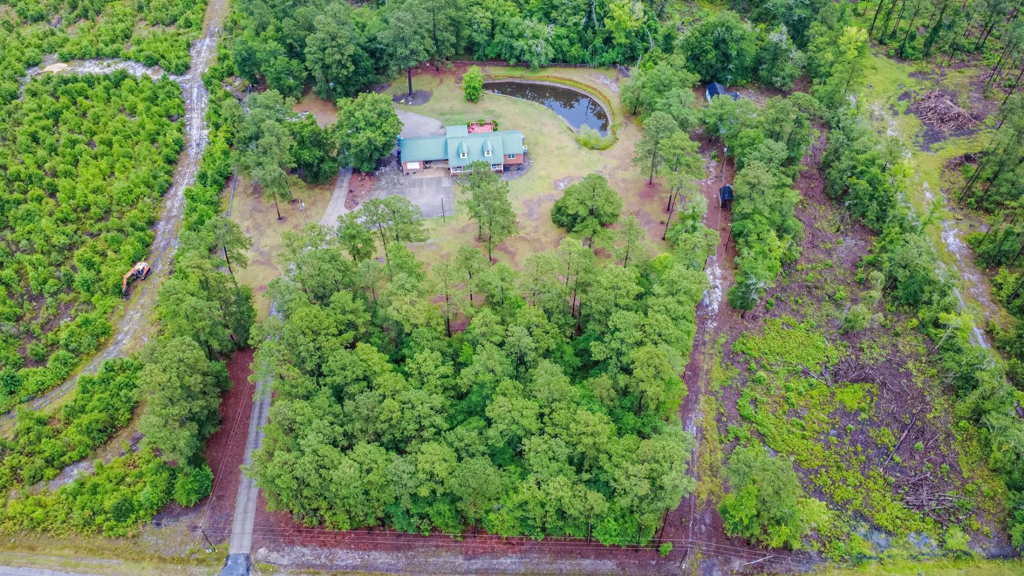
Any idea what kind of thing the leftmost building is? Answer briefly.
residential house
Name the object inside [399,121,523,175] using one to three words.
house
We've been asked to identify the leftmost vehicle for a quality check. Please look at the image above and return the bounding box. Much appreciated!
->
[117,258,151,294]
